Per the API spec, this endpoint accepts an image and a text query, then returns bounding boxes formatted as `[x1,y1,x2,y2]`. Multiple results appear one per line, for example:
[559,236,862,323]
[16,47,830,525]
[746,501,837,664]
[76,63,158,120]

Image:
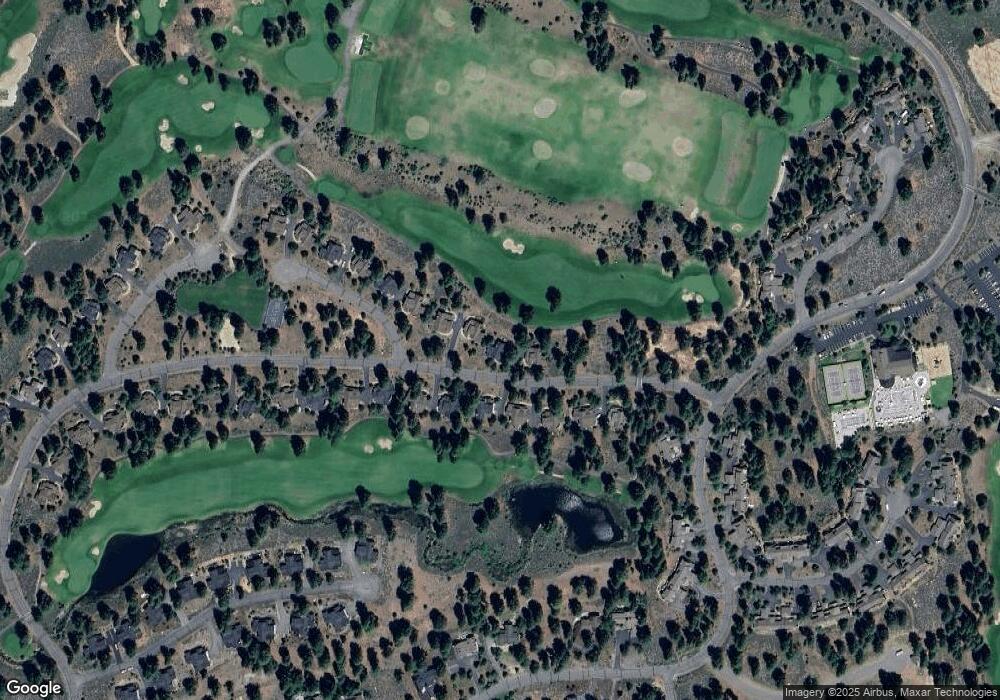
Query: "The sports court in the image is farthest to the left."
[265,299,286,328]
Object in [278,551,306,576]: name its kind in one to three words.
house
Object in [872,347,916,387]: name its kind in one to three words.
building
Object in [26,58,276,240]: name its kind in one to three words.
golf course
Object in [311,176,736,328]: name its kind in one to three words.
golf course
